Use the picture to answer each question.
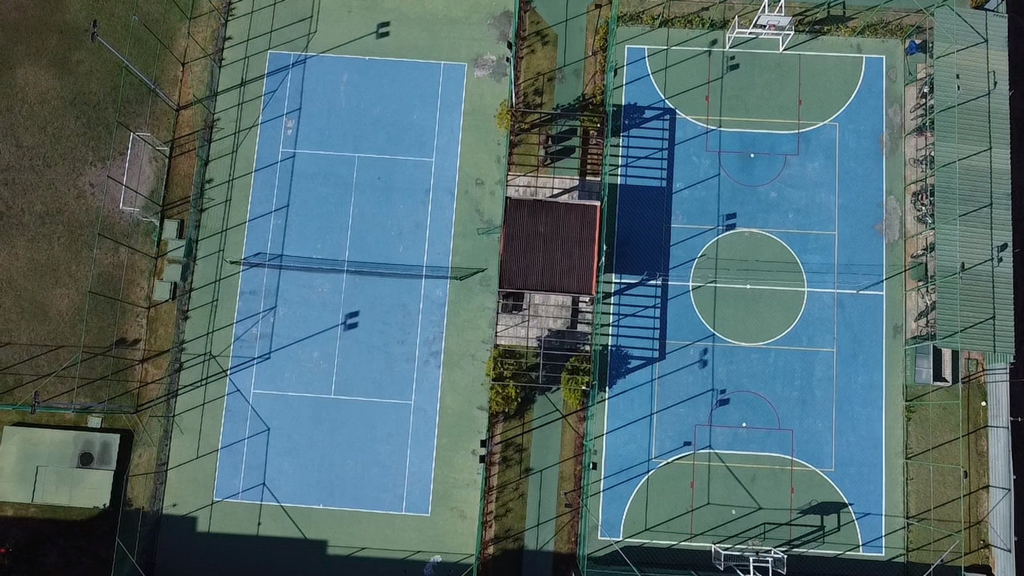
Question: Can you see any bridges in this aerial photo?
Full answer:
No, there appears to be no bridge in this shot.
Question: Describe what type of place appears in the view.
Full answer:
The picture captures a sports ground.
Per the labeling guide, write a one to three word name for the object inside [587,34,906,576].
sports court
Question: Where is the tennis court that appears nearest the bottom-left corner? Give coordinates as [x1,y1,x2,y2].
[153,0,513,576]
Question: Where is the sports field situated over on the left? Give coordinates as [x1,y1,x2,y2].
[0,0,192,414]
